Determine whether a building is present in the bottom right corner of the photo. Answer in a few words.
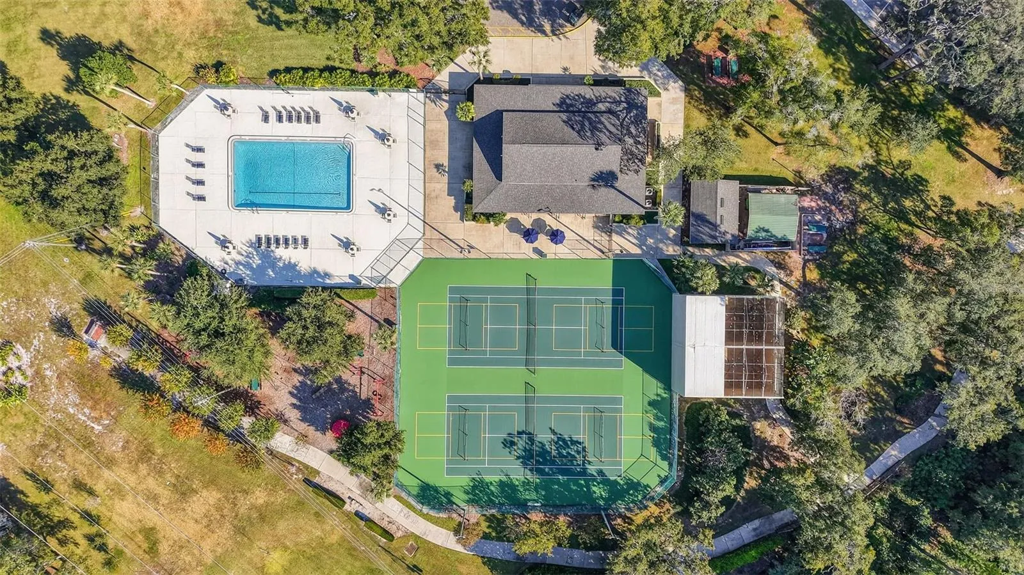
No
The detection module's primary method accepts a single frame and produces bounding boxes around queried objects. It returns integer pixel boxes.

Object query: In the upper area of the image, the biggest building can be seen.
[473,85,647,213]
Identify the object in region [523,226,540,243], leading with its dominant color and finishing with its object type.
blue umbrella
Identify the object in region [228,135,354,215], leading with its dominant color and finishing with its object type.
blue swimming pool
